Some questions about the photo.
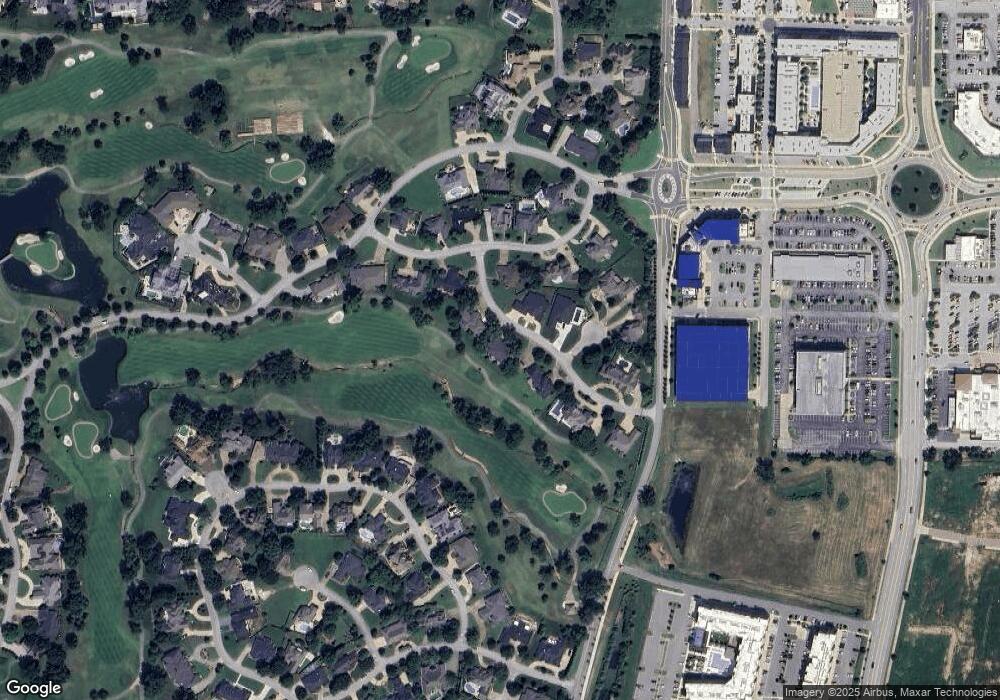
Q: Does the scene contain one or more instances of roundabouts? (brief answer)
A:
Yes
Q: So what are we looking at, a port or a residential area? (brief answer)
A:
residential area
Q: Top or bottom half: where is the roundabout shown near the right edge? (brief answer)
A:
top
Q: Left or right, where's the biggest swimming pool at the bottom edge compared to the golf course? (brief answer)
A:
to its right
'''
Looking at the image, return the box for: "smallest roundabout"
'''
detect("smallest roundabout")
[650,165,683,211]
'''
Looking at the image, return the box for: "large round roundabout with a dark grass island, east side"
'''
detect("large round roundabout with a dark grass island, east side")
[881,154,954,226]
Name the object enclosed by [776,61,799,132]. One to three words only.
building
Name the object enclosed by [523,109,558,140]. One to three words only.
house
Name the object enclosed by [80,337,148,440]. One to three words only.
pond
